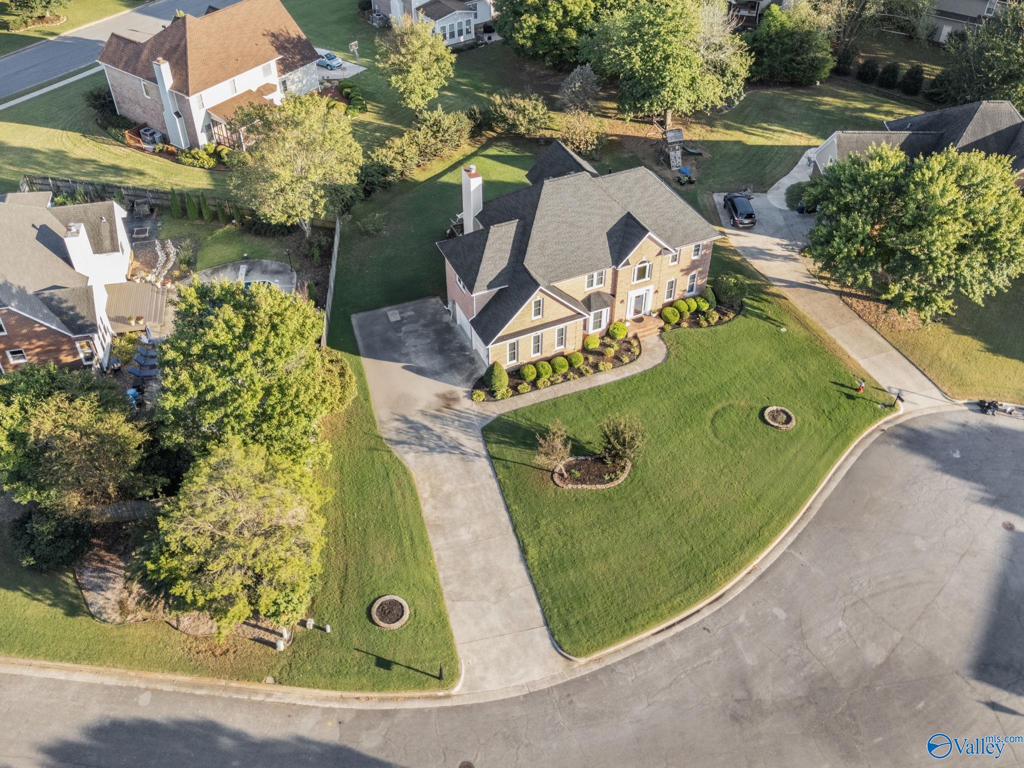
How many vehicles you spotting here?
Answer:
2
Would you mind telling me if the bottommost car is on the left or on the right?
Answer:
right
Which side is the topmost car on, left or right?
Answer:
left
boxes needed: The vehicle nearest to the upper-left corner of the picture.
[315,46,345,70]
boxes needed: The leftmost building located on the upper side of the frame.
[0,193,133,375]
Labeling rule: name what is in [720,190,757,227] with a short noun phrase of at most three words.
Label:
car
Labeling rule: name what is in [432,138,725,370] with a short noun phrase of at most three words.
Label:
house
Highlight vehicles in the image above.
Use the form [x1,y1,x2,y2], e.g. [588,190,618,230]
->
[315,46,345,70]
[720,190,757,227]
